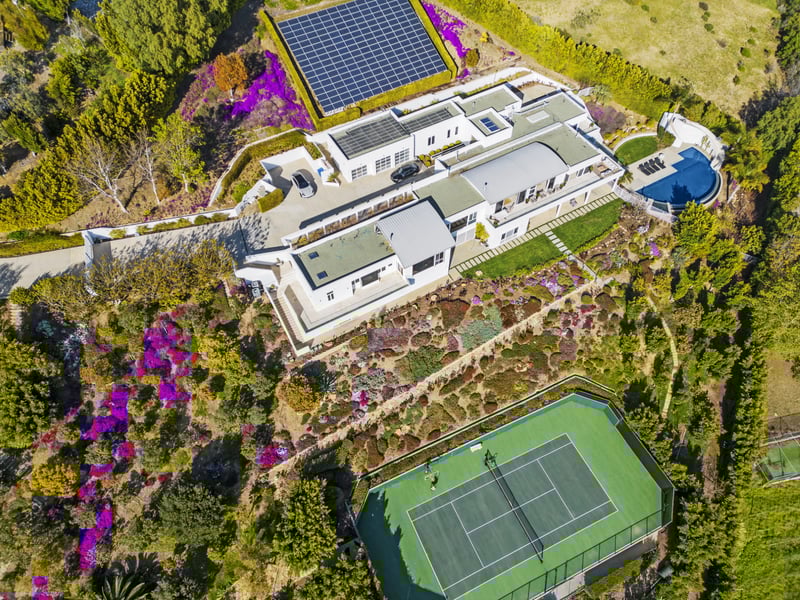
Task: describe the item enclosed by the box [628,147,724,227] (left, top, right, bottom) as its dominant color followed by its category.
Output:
blue swimming pool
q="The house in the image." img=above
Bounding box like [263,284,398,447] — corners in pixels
[232,83,623,358]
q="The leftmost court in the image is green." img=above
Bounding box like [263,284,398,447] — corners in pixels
[357,395,660,600]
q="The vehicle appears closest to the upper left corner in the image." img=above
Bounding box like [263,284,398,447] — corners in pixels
[291,172,314,199]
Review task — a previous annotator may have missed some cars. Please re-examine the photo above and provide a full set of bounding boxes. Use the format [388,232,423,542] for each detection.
[291,172,314,199]
[388,161,423,182]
